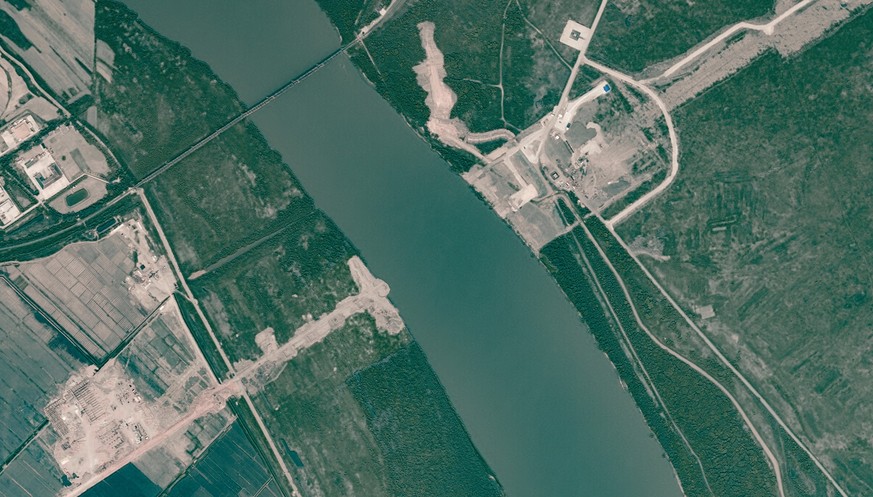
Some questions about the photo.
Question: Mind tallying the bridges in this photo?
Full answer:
Only 1 bridge is visible.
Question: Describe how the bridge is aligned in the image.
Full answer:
From this overhead view, the bridge appears to run on a diagonal.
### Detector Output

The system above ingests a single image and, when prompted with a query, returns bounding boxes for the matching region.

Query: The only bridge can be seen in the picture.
[132,35,361,191]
